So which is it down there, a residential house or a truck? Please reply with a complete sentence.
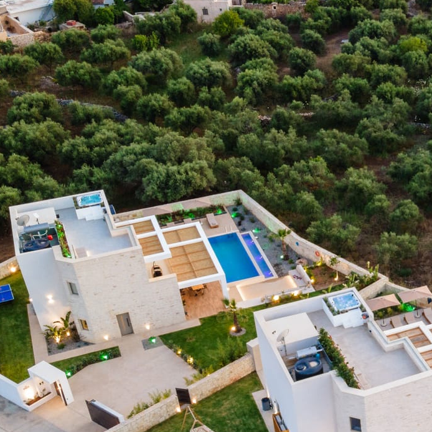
Of the two, only a residential house appears.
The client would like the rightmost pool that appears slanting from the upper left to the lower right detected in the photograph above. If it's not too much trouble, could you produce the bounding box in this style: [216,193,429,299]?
[238,229,276,272]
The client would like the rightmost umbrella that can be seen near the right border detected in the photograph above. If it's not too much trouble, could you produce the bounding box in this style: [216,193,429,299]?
[398,284,432,302]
